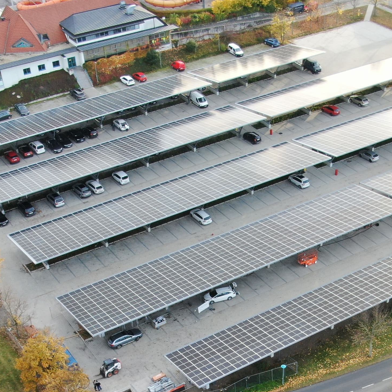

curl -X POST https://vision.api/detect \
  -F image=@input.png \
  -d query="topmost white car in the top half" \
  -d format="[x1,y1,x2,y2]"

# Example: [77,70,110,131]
[227,42,243,55]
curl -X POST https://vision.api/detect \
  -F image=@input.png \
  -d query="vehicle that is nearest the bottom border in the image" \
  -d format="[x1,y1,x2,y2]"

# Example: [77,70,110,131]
[91,356,121,382]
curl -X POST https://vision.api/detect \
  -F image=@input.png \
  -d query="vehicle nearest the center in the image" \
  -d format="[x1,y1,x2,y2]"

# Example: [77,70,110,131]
[189,211,213,229]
